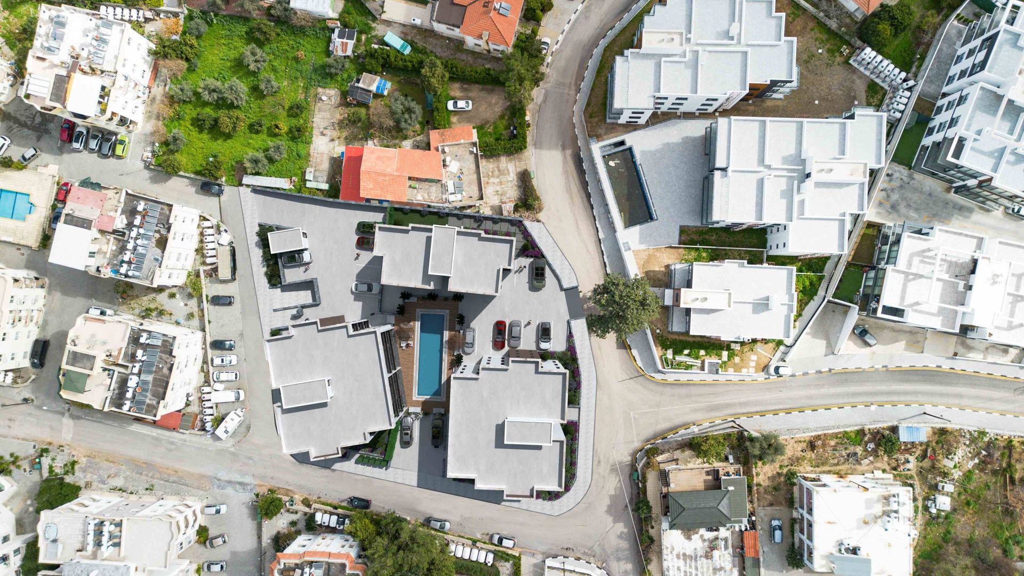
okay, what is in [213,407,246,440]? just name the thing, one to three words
camper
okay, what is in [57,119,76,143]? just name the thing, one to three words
car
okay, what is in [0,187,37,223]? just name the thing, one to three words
swimming pool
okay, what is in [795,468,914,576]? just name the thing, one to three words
building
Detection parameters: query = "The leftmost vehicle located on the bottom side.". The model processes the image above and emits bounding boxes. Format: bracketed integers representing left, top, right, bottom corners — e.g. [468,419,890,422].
[28,337,53,370]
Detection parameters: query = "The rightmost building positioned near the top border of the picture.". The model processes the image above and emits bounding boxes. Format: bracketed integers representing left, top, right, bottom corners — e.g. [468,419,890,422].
[901,0,1024,214]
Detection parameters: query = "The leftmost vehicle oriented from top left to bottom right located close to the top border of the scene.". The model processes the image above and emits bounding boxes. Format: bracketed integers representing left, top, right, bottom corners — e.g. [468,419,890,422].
[381,28,412,55]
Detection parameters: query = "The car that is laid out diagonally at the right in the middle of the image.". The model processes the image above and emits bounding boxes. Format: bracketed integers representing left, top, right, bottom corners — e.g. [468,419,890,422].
[852,324,879,349]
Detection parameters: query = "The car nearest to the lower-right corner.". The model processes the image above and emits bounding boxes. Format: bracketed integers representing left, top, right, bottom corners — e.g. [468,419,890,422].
[769,518,783,543]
